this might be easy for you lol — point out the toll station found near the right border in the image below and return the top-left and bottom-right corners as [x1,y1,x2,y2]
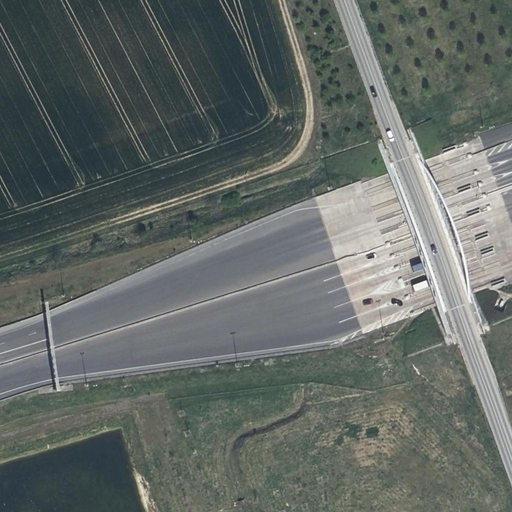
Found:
[316,134,512,337]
